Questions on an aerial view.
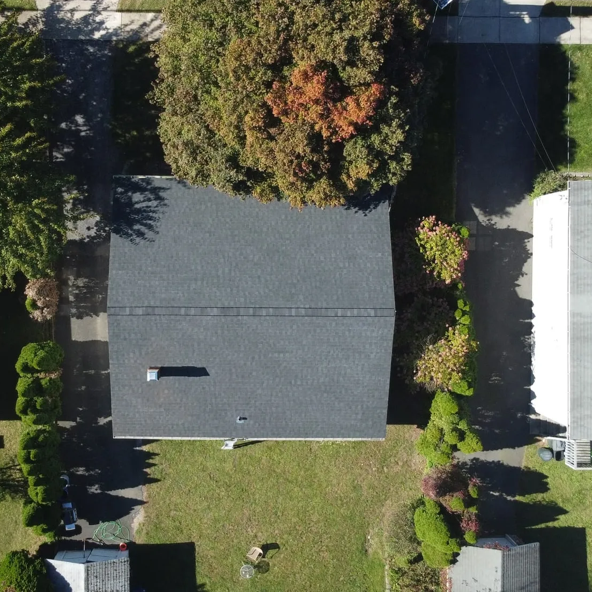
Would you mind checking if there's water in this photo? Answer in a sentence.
No, water can't be seen anywhere here.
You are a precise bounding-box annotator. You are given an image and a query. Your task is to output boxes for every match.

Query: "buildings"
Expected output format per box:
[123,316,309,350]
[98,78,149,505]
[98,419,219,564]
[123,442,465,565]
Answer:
[534,179,592,442]
[46,544,133,592]
[442,533,540,592]
[106,174,396,449]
